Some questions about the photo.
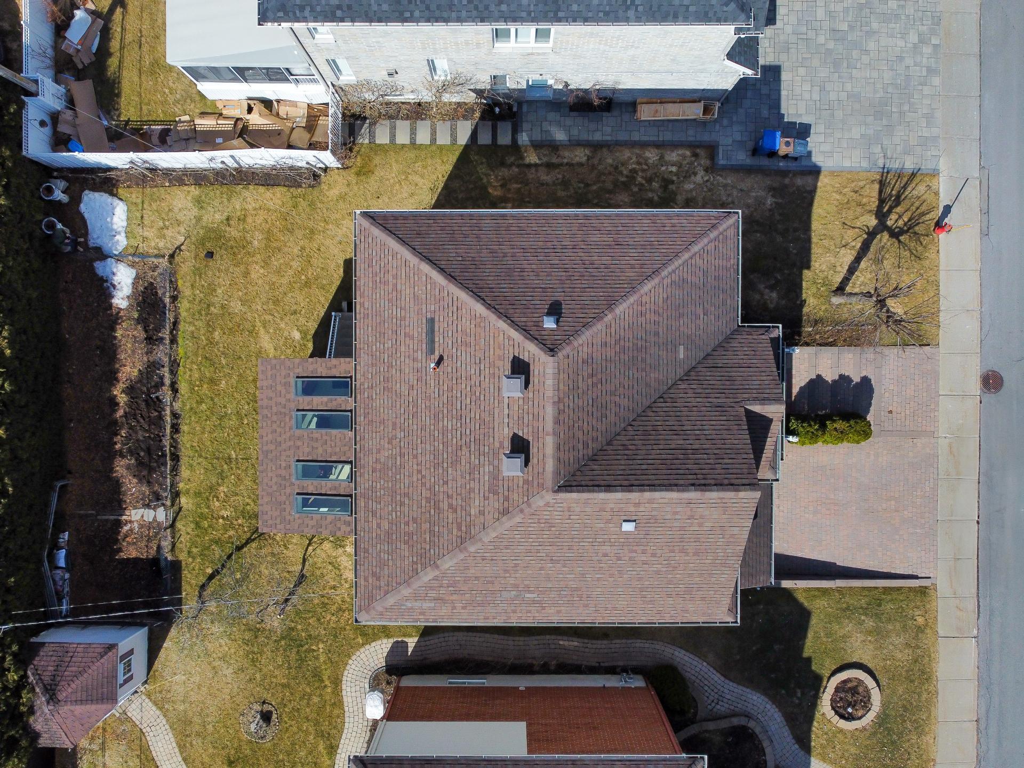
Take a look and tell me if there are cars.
No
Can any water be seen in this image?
No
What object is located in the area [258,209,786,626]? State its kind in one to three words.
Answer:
house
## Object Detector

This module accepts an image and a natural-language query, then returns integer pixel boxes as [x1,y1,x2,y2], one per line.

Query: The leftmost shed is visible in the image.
[21,625,146,749]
